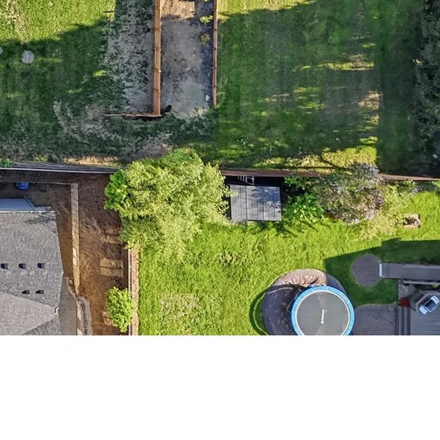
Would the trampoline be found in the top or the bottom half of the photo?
bottom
